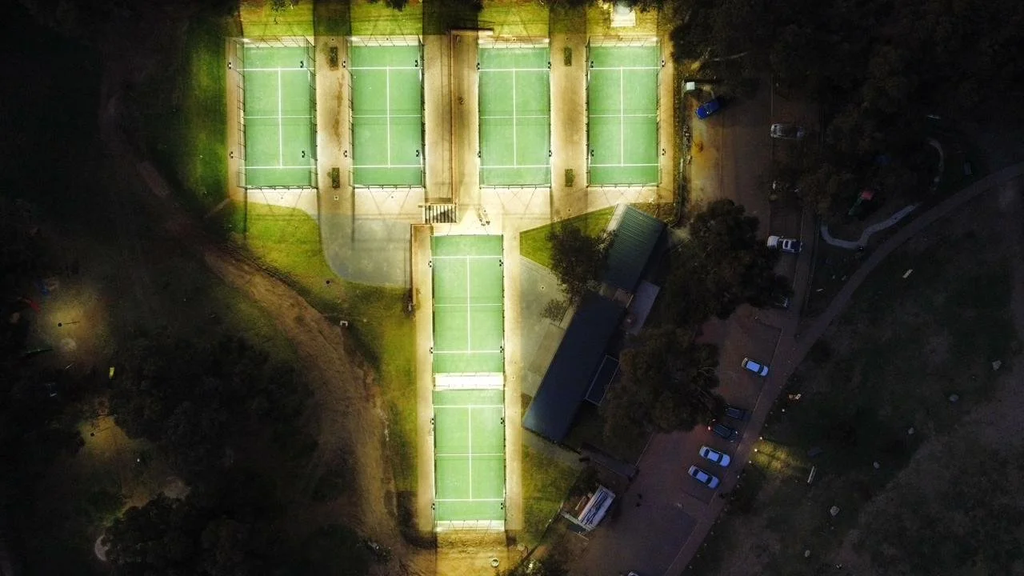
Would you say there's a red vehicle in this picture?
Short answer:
No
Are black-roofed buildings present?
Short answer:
Yes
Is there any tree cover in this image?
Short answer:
Yes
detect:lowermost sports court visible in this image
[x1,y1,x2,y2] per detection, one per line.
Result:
[430,384,507,533]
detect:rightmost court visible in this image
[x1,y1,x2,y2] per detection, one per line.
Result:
[585,35,665,189]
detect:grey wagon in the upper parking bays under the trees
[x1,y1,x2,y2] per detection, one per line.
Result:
[769,122,806,140]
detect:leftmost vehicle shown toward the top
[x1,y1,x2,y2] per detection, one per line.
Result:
[694,97,723,119]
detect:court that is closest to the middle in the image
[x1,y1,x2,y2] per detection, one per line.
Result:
[428,232,505,380]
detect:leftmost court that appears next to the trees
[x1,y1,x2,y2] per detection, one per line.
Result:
[231,35,318,190]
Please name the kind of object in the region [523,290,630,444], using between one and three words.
building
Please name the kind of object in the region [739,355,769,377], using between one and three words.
car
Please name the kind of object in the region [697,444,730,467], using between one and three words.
car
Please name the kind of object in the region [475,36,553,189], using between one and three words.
sports court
